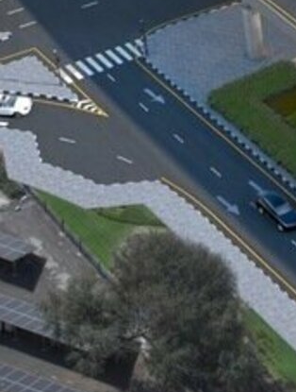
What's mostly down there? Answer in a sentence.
The bulk of the photo consists of paved ground.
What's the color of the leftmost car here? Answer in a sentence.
The leftmost car is white.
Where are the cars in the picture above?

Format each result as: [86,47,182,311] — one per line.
[0,94,38,118]
[258,193,296,230]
